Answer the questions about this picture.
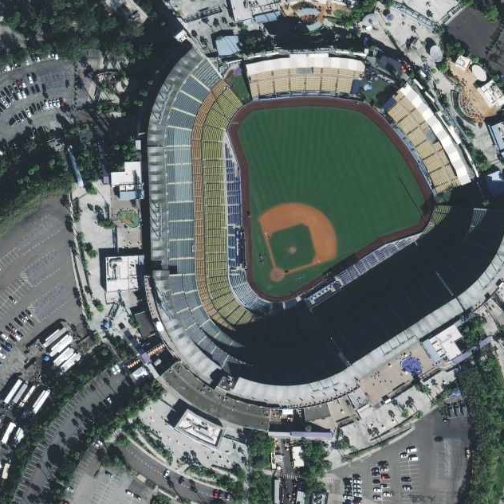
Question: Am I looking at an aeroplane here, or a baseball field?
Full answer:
There is a baseball field in the scene.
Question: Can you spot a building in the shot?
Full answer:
Yes, the frame does contain a building.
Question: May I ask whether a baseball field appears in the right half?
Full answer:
Yes, in the right half there is a baseball field.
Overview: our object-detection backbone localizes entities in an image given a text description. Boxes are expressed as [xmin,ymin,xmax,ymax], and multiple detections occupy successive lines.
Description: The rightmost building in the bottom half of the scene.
[422,326,462,362]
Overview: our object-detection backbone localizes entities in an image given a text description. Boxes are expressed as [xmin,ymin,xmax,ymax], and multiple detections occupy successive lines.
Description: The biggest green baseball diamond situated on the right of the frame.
[227,97,435,303]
